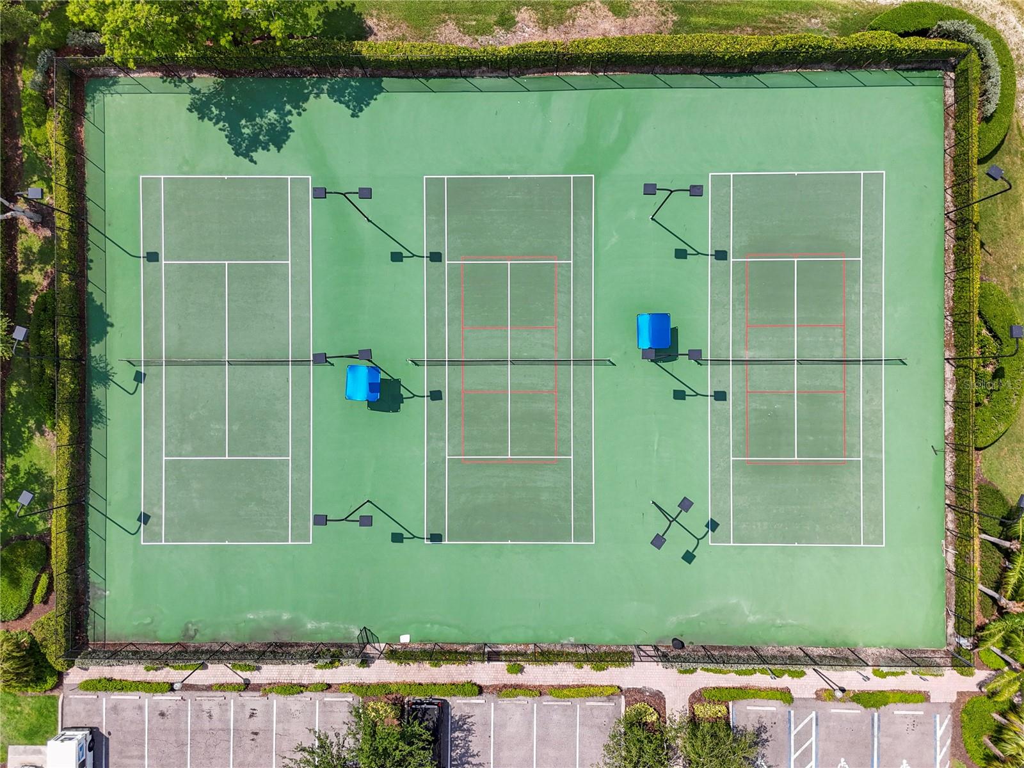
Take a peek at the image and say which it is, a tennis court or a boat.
tennis court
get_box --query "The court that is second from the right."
[425,175,595,544]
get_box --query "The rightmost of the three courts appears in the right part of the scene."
[709,171,885,546]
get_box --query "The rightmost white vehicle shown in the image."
[49,724,97,768]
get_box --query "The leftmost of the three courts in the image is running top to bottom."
[140,176,311,544]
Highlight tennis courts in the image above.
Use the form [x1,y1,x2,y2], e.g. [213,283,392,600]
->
[425,175,595,544]
[709,171,885,546]
[140,176,311,544]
